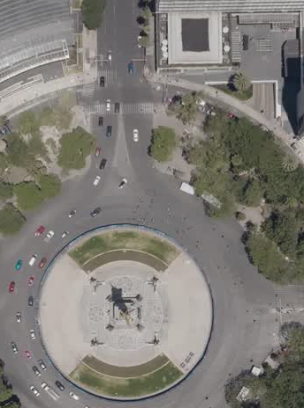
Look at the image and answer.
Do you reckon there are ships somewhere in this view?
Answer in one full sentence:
No, there is no ship in the image.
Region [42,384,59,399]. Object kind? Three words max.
vehicle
